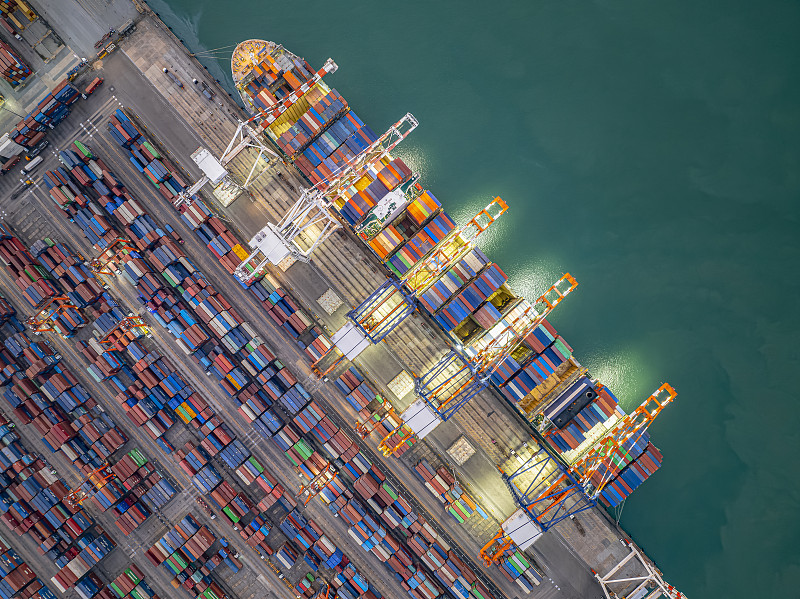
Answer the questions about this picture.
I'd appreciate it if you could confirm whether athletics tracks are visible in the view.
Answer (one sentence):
No, no athletics track is visible in the scene.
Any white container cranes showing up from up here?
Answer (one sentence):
Yes, you can see a white container crane in this photo.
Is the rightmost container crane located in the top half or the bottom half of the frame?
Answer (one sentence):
Seen from above, the rightmost container crane lies in the bottom half of the view.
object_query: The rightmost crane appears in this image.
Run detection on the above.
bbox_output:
[591,540,698,599]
